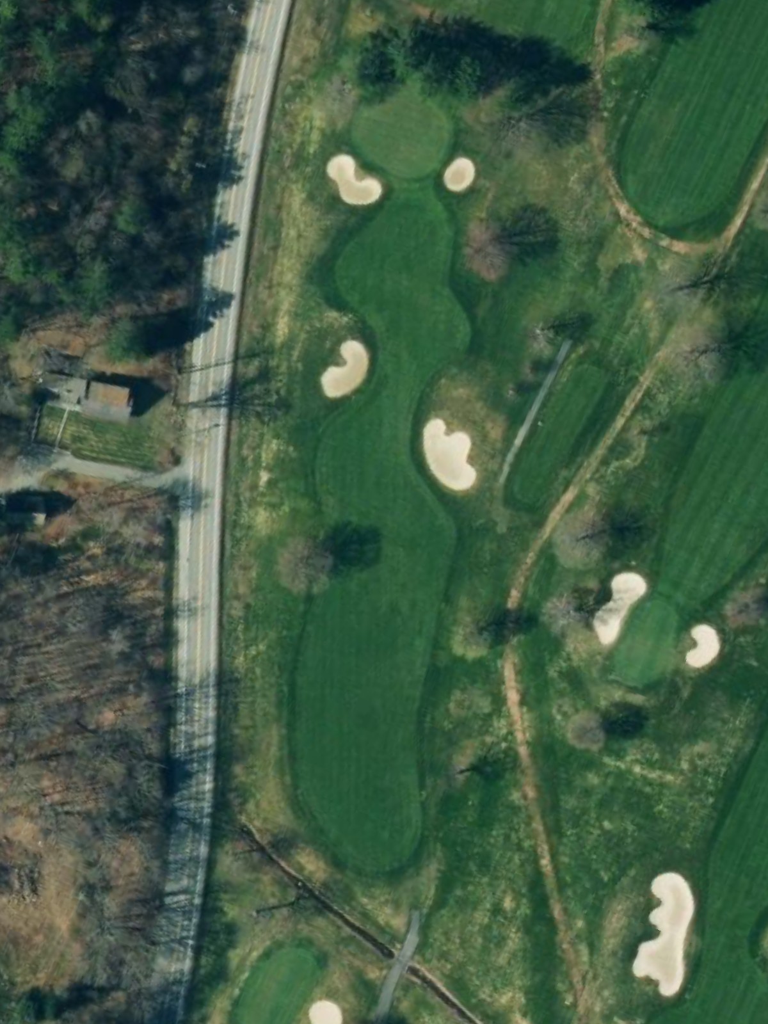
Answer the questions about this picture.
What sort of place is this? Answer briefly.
golf course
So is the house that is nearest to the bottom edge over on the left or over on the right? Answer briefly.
left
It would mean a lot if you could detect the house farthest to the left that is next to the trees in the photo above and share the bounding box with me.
[2,494,46,528]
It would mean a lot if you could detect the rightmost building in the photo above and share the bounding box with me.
[78,378,131,425]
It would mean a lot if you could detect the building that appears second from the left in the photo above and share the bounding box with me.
[41,374,87,414]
